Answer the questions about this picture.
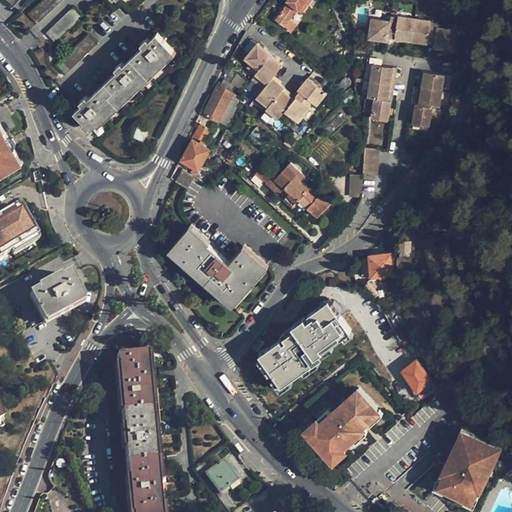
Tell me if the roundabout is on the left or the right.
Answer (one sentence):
The roundabout appears in the left half of the scene.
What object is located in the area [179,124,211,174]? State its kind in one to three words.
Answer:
house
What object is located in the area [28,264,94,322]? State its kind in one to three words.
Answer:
building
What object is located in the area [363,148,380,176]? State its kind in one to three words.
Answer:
house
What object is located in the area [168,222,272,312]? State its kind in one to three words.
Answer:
building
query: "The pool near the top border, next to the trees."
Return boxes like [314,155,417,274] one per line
[353,3,372,27]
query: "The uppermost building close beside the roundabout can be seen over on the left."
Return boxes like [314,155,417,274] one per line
[72,32,182,137]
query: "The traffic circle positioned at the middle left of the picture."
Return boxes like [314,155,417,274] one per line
[64,172,148,254]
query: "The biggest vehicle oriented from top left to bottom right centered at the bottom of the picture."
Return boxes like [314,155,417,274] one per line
[220,374,237,394]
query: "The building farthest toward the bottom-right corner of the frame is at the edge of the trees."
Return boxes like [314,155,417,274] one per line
[433,426,502,512]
